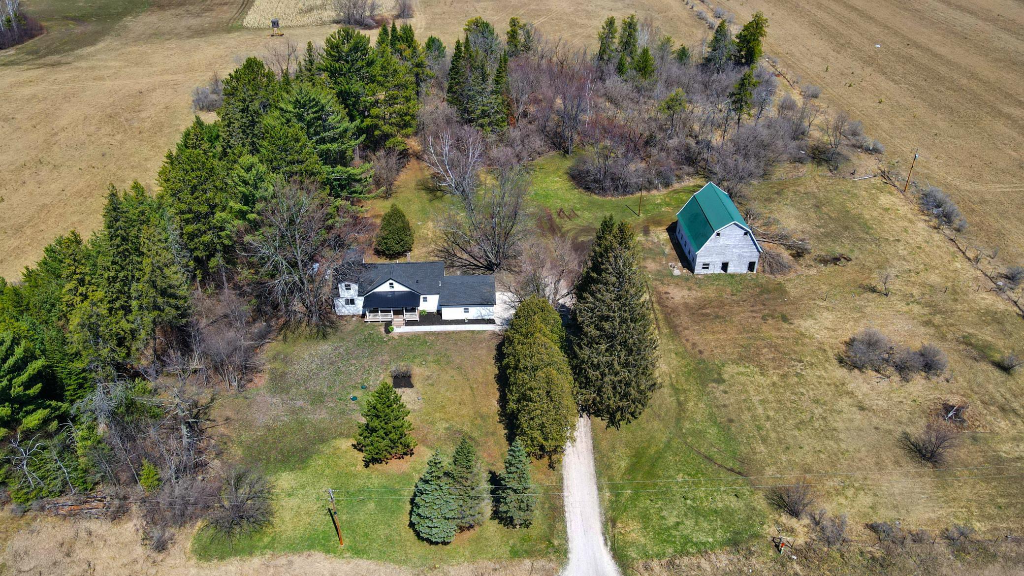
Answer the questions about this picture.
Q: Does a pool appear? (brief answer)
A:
No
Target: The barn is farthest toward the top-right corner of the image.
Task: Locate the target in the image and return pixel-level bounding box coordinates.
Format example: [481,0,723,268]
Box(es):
[673,184,764,274]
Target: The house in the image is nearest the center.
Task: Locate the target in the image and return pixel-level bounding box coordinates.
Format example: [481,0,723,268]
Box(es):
[327,244,497,330]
